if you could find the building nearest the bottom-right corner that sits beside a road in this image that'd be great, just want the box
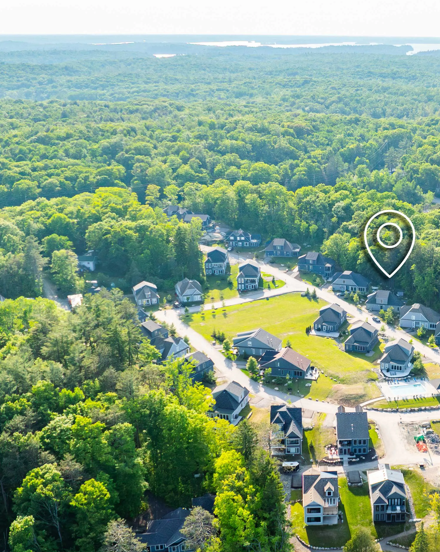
[366,461,408,523]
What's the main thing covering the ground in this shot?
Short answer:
trees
